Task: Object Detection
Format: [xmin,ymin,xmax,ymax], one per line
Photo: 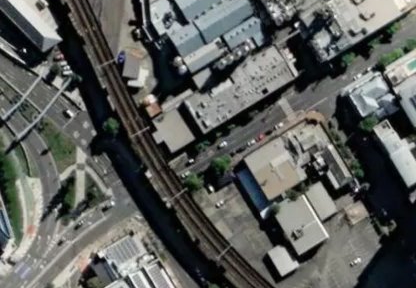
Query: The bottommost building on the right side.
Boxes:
[268,245,299,277]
